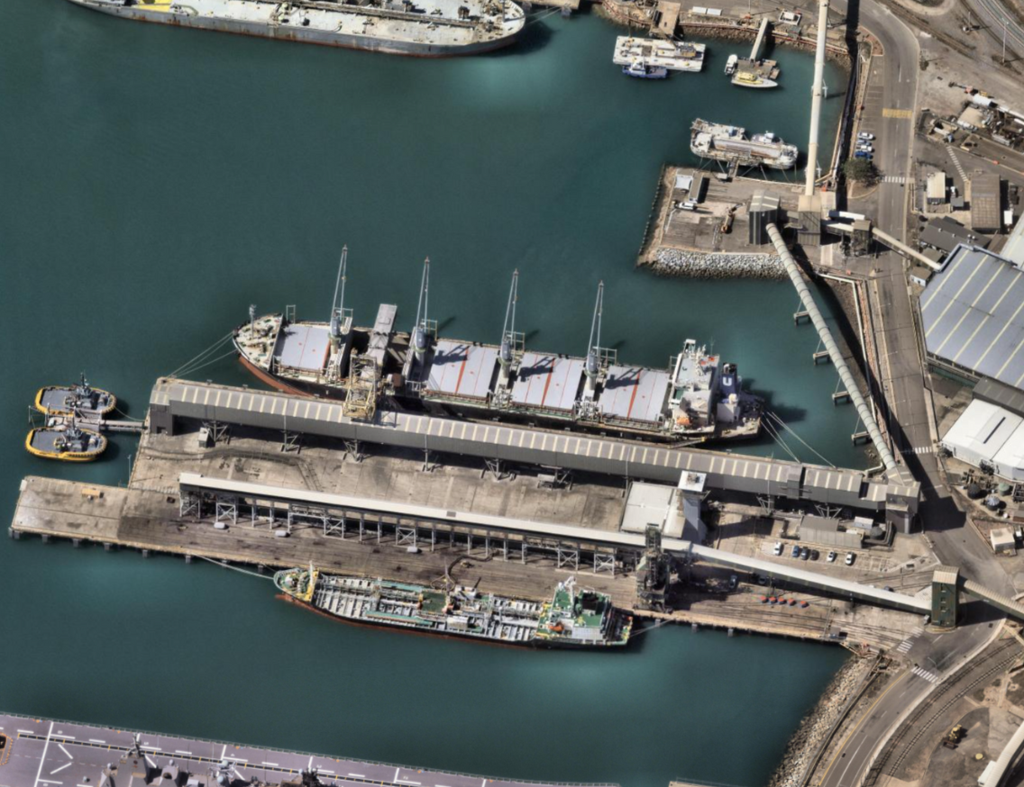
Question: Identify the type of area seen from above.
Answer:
port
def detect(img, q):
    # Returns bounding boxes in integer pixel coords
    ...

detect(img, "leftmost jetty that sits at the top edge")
[521,0,580,20]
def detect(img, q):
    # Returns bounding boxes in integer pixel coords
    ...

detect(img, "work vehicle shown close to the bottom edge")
[944,722,963,748]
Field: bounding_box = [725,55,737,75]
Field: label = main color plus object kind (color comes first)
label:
white boat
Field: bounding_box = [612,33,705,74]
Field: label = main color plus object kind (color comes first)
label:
white ship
